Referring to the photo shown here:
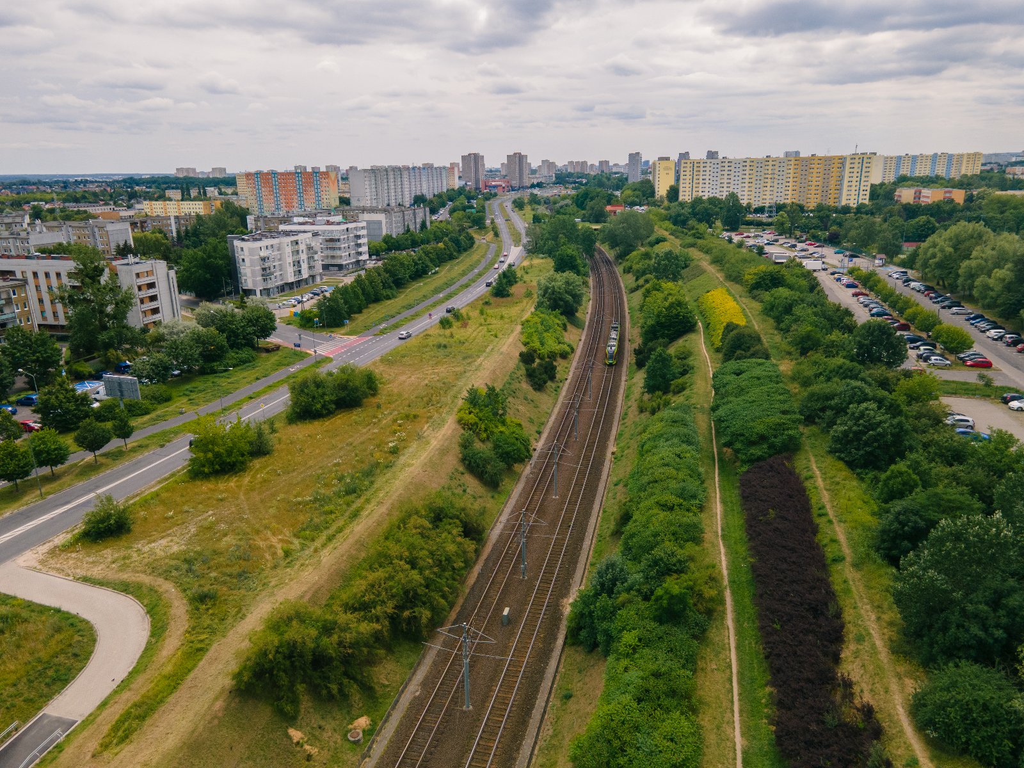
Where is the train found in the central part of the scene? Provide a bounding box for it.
[605,322,619,363]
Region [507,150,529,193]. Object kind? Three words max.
building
